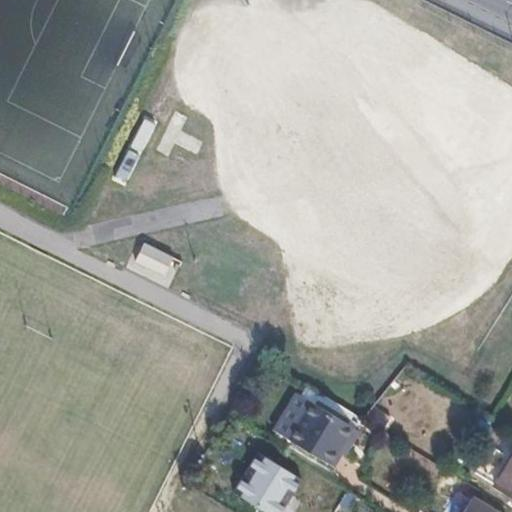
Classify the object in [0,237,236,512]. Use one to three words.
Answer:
sports field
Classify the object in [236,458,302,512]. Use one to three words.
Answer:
house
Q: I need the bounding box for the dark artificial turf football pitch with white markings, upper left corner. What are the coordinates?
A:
[0,0,182,208]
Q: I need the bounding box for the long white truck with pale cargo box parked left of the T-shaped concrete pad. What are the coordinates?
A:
[112,117,158,185]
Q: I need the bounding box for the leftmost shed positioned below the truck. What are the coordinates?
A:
[127,244,182,288]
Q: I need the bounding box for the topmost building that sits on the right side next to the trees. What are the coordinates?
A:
[272,388,357,467]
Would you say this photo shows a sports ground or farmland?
sports ground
